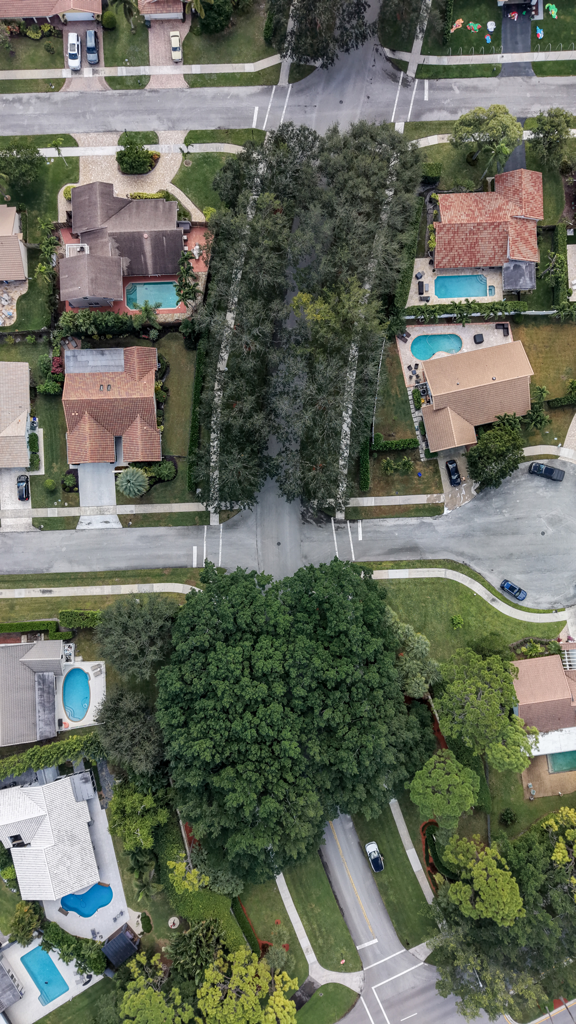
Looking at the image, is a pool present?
Yes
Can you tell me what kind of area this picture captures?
residential area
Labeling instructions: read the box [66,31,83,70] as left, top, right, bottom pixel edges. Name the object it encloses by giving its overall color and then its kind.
white car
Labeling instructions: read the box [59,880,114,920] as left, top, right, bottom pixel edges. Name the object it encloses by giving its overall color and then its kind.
blue swimming pool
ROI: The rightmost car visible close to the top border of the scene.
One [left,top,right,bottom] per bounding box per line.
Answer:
[169,31,183,63]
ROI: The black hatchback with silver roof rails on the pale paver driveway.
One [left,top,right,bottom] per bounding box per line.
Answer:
[15,474,31,501]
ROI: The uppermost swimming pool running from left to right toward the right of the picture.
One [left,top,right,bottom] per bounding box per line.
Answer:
[433,273,488,299]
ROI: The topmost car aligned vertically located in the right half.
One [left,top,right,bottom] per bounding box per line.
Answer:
[445,458,462,488]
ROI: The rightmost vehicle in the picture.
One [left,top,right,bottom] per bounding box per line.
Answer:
[527,462,566,482]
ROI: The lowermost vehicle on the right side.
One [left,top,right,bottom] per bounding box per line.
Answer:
[365,839,384,876]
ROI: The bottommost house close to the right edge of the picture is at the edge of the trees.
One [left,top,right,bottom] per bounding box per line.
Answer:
[508,640,576,761]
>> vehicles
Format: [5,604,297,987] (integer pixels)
[66,31,83,70]
[84,28,100,64]
[497,578,529,602]
[527,462,566,482]
[365,839,384,876]
[15,474,31,501]
[445,458,462,488]
[169,31,183,63]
